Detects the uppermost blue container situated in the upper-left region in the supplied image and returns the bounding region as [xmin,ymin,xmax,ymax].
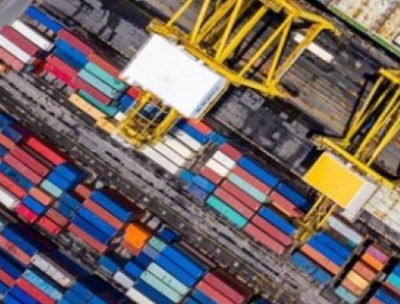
[25,6,62,38]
